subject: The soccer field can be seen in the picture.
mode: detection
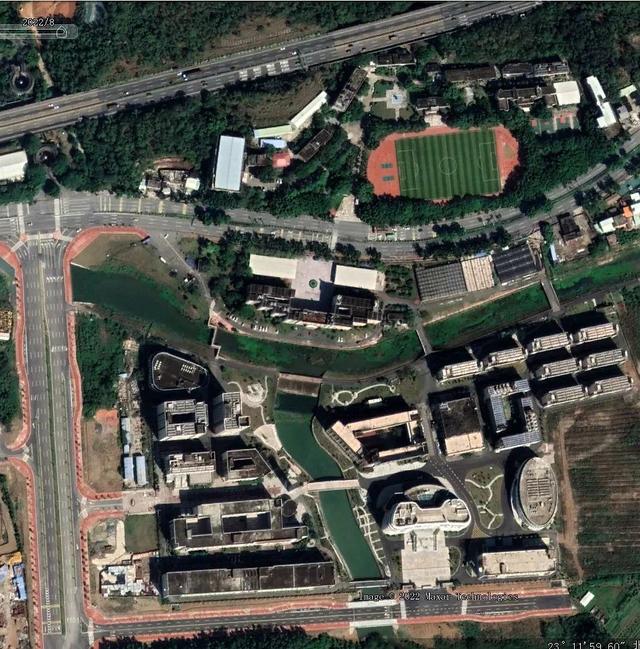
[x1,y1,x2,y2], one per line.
[395,131,500,195]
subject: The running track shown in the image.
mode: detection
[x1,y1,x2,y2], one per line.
[367,125,519,202]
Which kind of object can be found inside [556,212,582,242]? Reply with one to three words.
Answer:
house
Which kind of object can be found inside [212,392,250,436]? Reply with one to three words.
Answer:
building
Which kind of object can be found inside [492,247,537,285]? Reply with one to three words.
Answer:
shed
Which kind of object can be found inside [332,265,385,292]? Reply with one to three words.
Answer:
building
